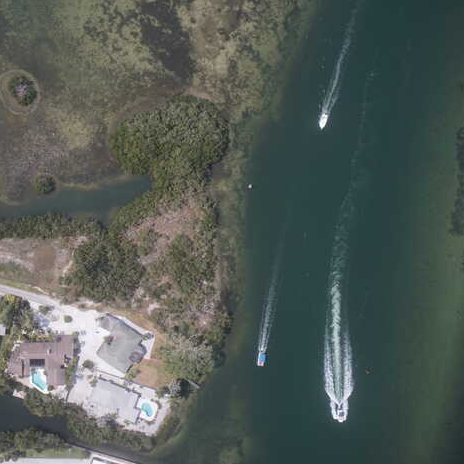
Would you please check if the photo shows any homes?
Yes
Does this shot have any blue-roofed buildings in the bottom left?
No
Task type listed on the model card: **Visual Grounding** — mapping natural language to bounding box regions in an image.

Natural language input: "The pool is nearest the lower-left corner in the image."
[32,370,47,391]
